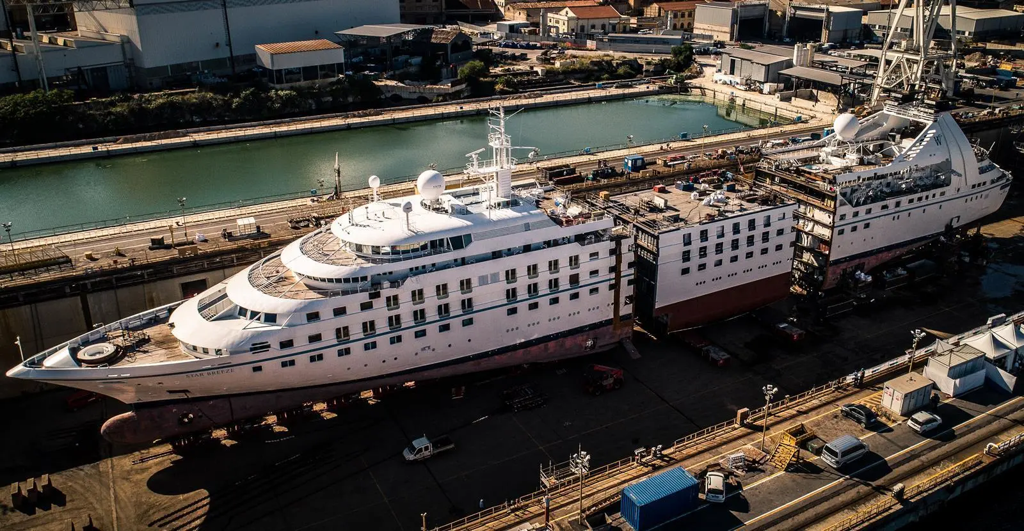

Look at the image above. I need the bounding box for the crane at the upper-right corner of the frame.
[874,0,959,99]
